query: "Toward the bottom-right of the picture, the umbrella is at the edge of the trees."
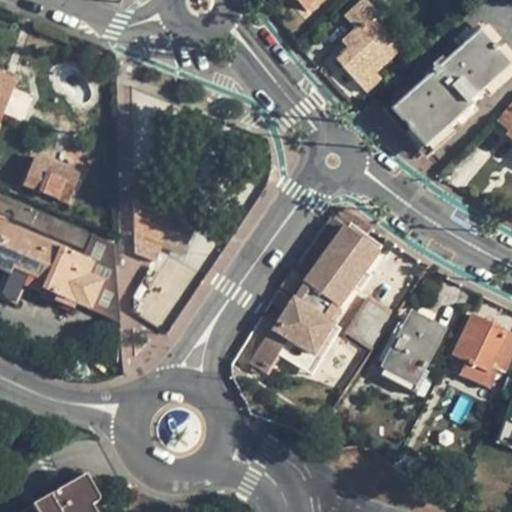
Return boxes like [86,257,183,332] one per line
[439,429,454,445]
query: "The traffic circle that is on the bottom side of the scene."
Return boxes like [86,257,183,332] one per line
[152,402,206,457]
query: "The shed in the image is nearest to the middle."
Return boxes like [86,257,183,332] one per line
[187,231,218,270]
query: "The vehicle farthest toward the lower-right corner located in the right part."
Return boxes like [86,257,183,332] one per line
[439,304,452,326]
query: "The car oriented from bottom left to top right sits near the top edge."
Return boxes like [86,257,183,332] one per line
[326,23,345,44]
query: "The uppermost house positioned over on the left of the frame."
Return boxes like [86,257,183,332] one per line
[0,66,34,121]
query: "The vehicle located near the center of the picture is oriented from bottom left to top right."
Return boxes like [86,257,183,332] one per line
[266,248,283,268]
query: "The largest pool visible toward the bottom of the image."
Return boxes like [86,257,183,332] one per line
[450,394,472,422]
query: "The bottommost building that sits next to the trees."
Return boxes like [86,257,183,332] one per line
[34,472,106,512]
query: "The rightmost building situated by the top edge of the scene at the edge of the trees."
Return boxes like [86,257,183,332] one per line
[393,24,512,154]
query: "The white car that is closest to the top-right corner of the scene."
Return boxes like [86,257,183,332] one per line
[377,153,398,172]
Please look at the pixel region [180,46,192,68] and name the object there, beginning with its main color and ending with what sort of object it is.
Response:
white vehicle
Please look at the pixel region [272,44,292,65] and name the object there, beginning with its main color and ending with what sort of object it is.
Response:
white car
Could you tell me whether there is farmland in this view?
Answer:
No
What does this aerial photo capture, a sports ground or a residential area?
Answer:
residential area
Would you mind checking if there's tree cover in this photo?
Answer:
Yes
